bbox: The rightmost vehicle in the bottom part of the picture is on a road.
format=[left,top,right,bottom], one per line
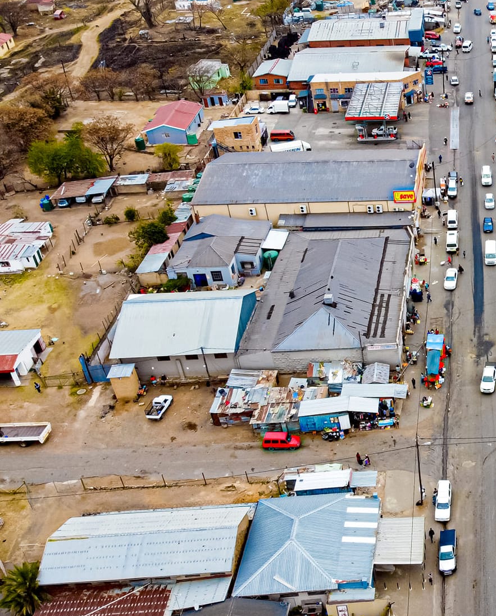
[480,363,496,394]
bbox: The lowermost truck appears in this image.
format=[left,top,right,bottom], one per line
[436,531,458,575]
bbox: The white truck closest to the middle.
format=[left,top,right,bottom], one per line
[142,394,174,424]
